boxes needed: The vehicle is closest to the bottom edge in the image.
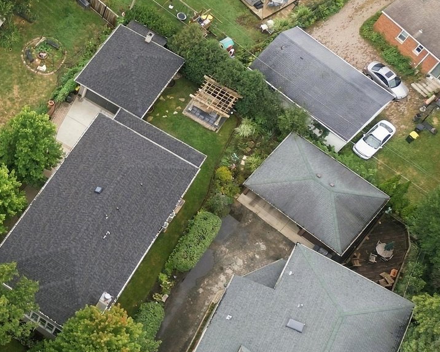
[350,119,397,160]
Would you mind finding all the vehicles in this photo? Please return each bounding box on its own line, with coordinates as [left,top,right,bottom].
[350,119,397,160]
[361,59,410,104]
